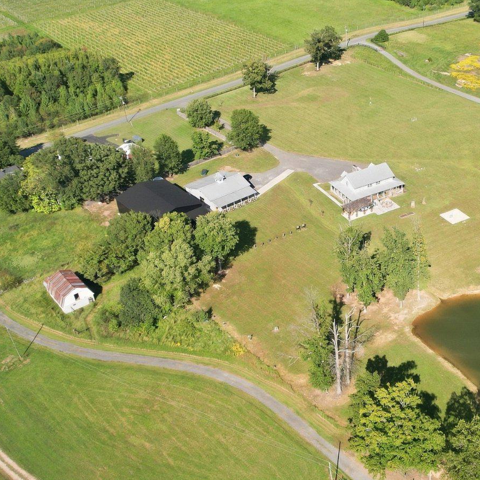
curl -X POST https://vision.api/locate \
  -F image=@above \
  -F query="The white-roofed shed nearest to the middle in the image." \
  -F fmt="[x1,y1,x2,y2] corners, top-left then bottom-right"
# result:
[186,168,260,210]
